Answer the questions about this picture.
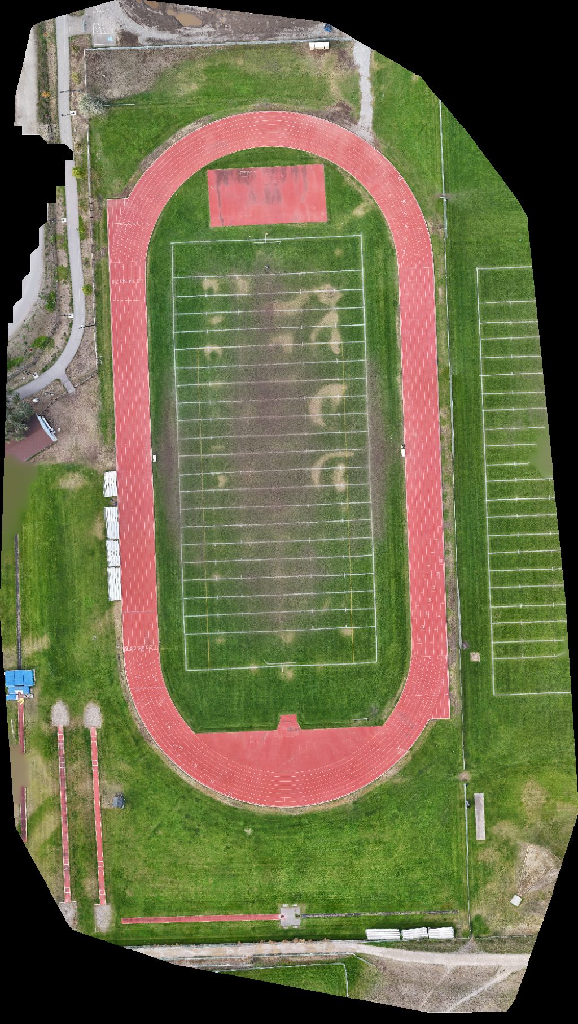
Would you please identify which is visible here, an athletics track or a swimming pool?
athletics track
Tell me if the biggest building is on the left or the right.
left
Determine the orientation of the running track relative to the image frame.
vertically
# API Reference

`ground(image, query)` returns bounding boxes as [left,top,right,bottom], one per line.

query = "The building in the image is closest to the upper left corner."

[2,412,54,462]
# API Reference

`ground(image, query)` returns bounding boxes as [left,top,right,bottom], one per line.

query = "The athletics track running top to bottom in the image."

[107,110,450,808]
